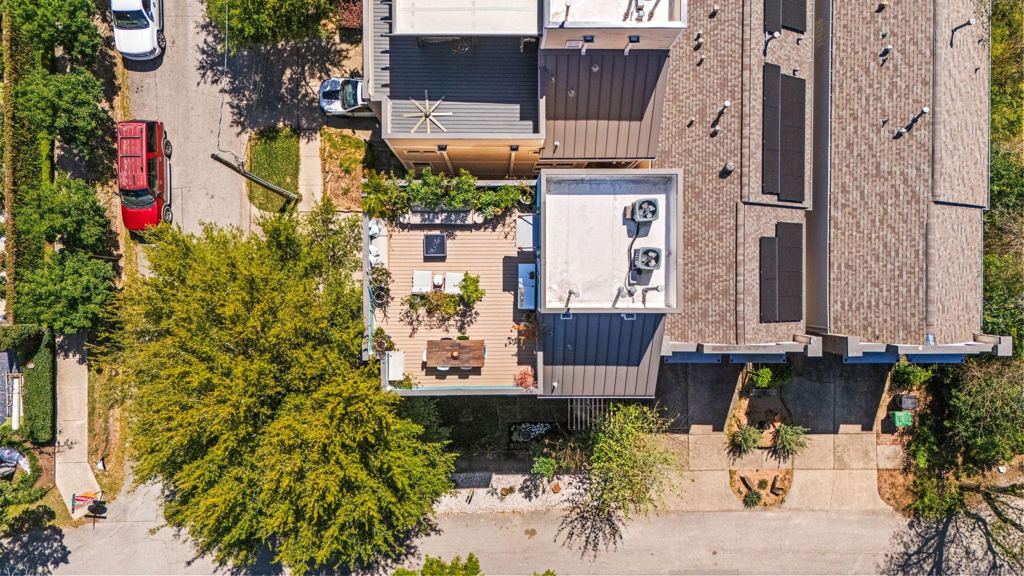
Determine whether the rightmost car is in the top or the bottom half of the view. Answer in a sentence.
The top half of the photo is where the rightmost car is.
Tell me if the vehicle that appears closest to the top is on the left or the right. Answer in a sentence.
You can find the vehicle that appears closest to the top on the left side of the picture.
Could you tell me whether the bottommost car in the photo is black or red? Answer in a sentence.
From above, the bottommost car appears red.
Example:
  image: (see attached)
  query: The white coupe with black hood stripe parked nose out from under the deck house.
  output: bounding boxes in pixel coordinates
[319,70,379,119]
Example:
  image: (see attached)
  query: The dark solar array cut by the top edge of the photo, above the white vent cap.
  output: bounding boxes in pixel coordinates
[765,0,806,37]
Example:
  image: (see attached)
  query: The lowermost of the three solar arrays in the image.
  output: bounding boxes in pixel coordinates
[760,222,802,322]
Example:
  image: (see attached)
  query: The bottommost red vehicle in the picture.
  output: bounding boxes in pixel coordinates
[117,126,175,231]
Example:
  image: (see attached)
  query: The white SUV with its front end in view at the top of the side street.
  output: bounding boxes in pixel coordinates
[111,0,170,59]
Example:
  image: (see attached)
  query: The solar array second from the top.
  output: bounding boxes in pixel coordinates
[764,61,805,203]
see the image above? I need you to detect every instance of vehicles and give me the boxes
[111,0,170,59]
[117,126,175,231]
[319,70,379,119]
